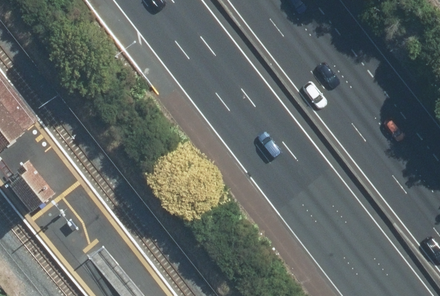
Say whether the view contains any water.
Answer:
No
